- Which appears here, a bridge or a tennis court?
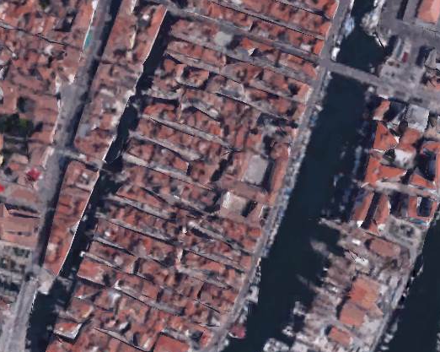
bridge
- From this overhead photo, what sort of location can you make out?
residential area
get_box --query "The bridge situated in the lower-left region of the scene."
[14,274,41,309]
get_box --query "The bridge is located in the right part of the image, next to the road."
[323,56,376,87]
